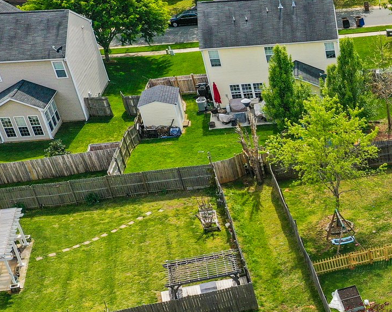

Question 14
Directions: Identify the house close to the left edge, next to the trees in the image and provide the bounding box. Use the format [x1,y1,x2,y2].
[0,6,110,140]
